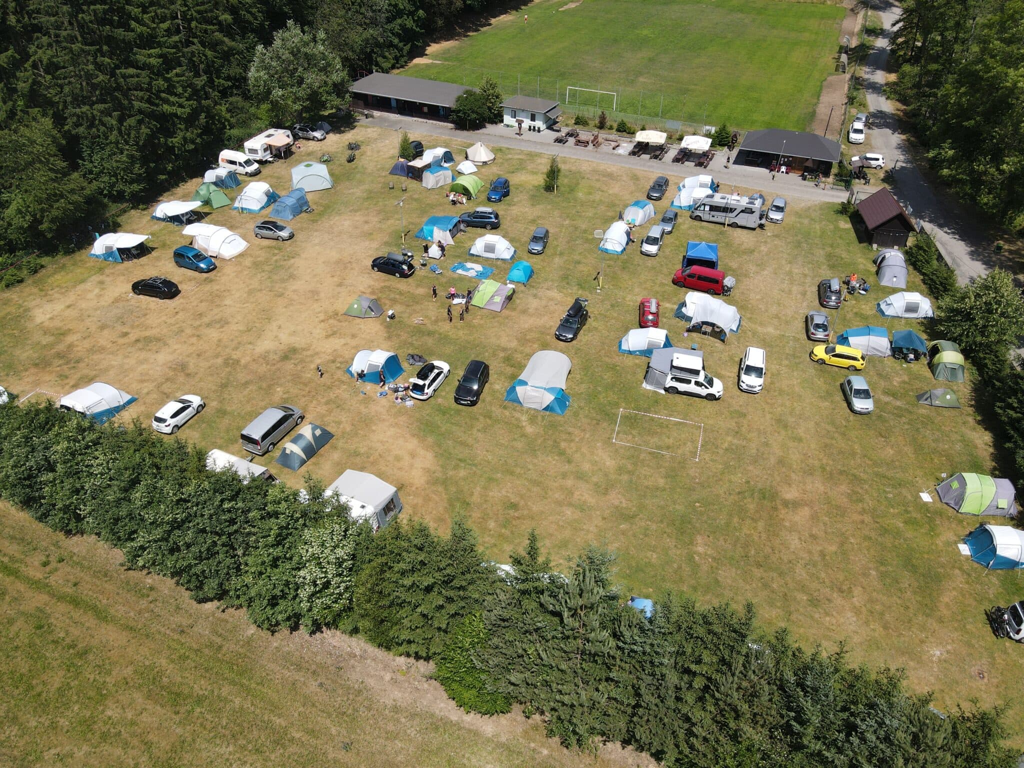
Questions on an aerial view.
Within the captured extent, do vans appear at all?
Yes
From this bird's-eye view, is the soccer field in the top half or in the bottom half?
top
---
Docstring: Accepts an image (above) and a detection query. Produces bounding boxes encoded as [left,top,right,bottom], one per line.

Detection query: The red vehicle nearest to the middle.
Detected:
[636,295,660,325]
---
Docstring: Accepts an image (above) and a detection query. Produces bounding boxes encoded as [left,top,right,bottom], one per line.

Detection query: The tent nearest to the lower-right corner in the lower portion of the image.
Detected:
[962,518,1024,582]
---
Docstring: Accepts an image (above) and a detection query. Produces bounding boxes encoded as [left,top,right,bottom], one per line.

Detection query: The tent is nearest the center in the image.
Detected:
[506,350,584,414]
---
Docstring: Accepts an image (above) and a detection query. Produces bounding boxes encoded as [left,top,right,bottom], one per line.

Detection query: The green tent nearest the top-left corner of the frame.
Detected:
[188,181,232,211]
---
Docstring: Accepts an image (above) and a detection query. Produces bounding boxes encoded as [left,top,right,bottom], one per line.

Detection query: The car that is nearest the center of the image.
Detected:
[455,354,493,402]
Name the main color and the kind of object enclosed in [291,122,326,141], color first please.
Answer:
gray car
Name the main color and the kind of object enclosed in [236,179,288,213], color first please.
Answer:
white tent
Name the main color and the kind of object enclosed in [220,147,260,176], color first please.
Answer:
white van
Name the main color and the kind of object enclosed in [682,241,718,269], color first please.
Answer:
blue gazebo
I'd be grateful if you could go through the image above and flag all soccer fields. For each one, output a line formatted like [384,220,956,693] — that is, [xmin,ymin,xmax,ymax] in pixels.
[407,0,846,132]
